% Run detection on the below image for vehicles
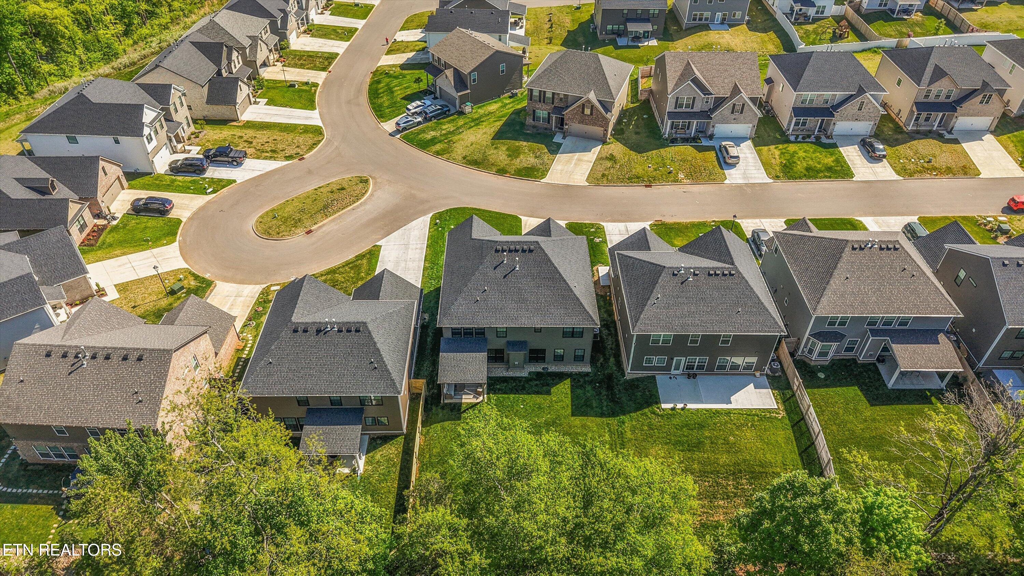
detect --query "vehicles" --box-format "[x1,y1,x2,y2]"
[419,102,451,121]
[900,216,932,240]
[402,97,433,114]
[720,142,742,164]
[198,142,250,165]
[129,193,176,215]
[861,137,889,159]
[750,227,769,250]
[391,113,424,132]
[166,153,210,173]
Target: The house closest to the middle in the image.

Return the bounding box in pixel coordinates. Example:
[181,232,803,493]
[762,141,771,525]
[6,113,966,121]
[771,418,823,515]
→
[437,214,600,404]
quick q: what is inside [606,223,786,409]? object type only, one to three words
house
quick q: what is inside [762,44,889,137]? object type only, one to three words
house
